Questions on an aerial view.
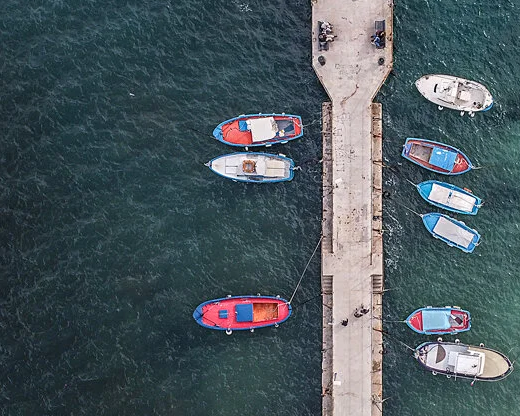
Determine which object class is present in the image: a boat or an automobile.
boat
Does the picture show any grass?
No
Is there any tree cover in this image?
No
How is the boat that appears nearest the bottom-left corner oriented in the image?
horizontally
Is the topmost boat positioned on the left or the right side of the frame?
right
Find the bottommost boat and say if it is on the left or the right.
right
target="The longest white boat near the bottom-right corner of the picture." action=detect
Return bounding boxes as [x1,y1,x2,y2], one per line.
[415,337,513,386]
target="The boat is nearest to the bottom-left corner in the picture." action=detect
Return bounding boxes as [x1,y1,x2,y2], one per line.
[192,293,292,335]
